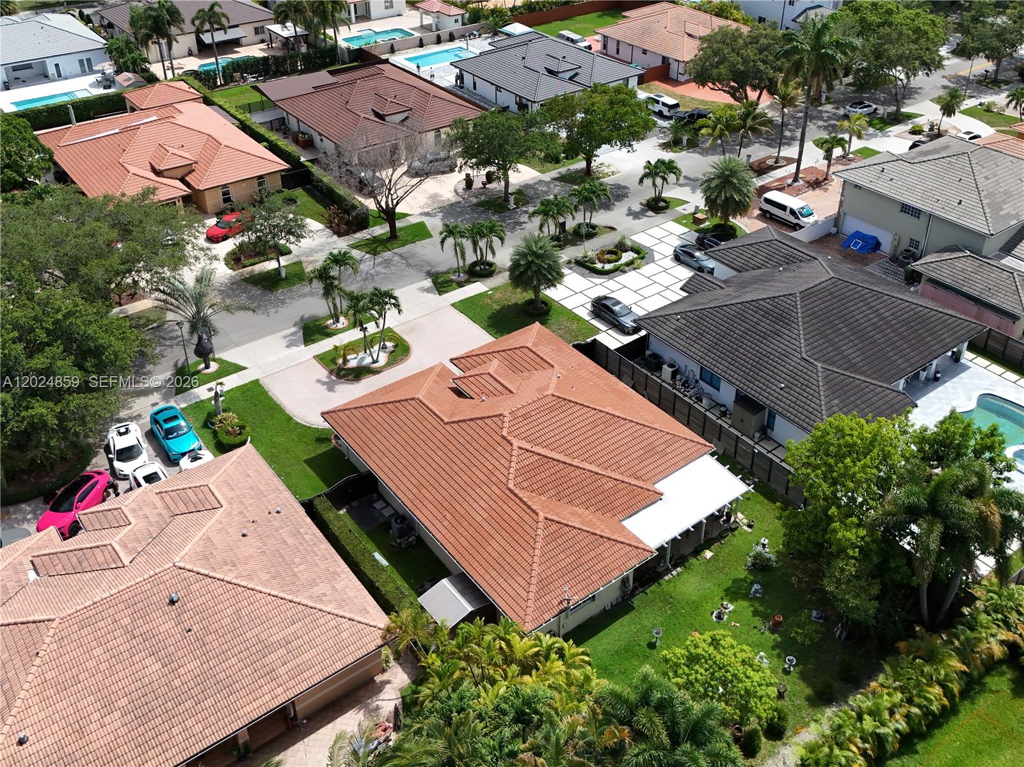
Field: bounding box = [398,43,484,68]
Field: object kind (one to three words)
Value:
swimming pool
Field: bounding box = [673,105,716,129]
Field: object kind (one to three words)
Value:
truck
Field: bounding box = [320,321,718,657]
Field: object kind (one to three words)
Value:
house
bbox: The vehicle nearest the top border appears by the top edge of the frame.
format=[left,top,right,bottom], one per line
[558,31,589,48]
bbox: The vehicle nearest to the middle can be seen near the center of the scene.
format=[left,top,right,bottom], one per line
[586,297,642,336]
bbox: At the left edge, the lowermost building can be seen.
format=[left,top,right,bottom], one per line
[0,440,402,767]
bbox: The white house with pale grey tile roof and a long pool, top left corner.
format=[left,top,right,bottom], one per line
[0,11,107,86]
